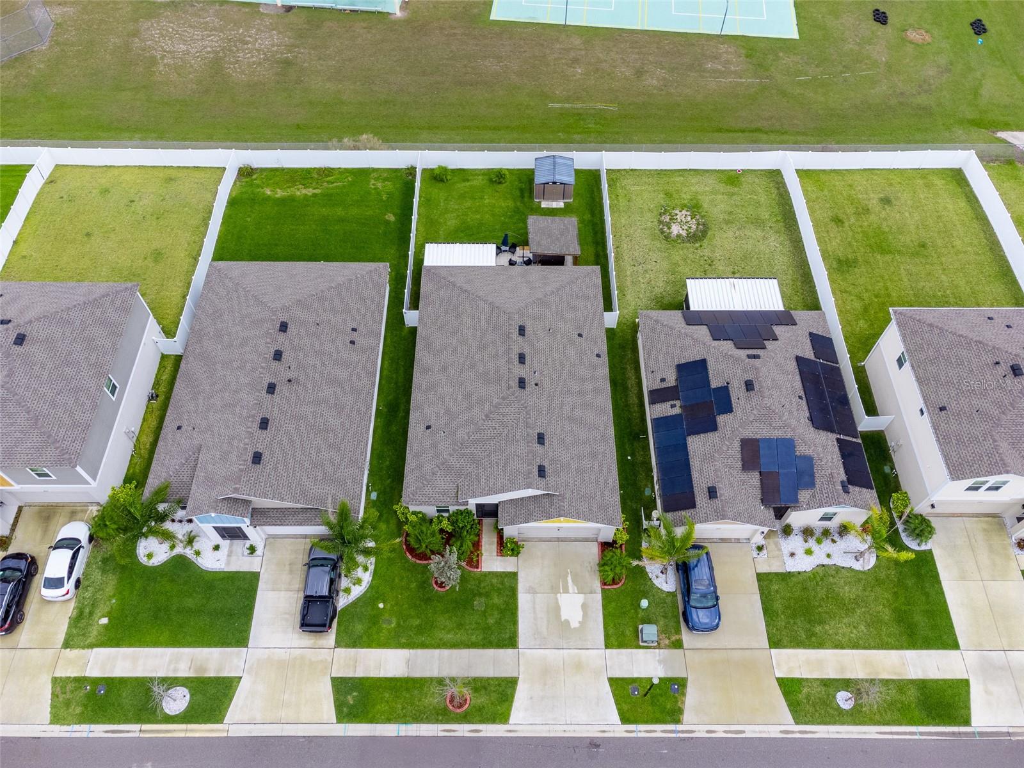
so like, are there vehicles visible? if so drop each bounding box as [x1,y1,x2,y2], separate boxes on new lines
[0,549,38,636]
[301,539,345,634]
[675,542,722,632]
[38,523,93,604]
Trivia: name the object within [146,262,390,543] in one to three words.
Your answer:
house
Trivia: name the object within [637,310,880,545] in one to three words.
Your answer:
house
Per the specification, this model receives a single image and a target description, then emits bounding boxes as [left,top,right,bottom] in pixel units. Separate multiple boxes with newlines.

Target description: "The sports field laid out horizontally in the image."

[0,0,1024,160]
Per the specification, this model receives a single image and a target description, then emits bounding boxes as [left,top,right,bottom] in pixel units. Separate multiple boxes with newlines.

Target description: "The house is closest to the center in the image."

[401,265,622,543]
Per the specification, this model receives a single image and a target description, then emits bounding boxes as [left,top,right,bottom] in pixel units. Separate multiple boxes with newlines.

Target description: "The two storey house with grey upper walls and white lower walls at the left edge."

[0,285,162,536]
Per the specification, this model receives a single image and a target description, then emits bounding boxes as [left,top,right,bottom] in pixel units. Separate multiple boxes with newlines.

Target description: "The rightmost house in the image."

[859,307,1024,518]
